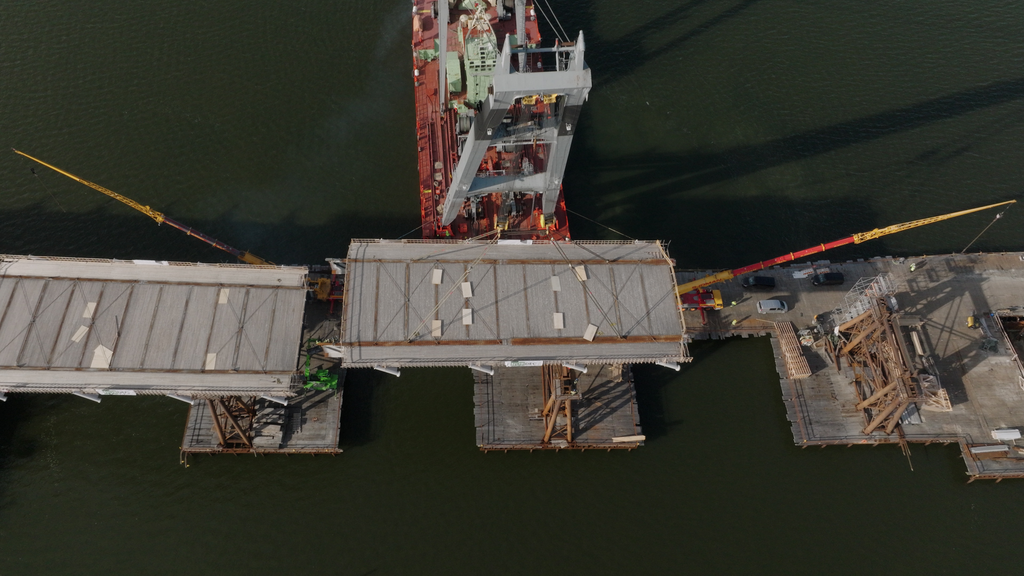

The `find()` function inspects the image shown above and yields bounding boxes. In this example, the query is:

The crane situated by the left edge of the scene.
[12,149,350,323]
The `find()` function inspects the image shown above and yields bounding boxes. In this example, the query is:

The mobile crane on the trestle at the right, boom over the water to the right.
[670,200,1017,325]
